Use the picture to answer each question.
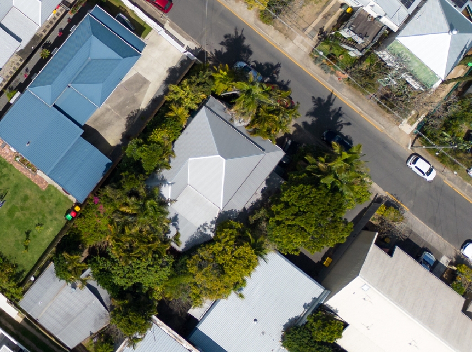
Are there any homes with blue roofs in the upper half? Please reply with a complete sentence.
Yes, a home with a blue roof can be seen in the upper half.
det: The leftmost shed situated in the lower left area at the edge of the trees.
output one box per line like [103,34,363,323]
[18,262,113,350]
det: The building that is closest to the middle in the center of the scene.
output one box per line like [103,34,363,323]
[141,93,285,253]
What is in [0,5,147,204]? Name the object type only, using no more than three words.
house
